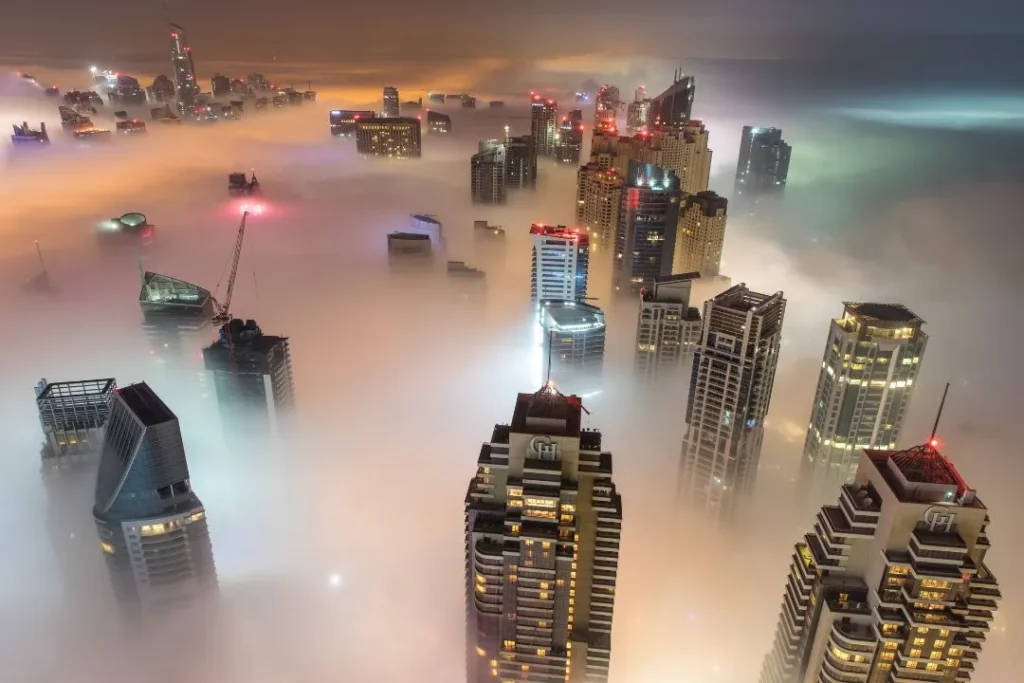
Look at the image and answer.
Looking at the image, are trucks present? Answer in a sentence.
No, there isn't any truck down there.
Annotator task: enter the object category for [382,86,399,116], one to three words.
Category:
building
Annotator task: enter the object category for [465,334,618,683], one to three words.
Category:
building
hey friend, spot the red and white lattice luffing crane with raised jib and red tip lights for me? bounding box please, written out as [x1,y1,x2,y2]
[207,210,257,378]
